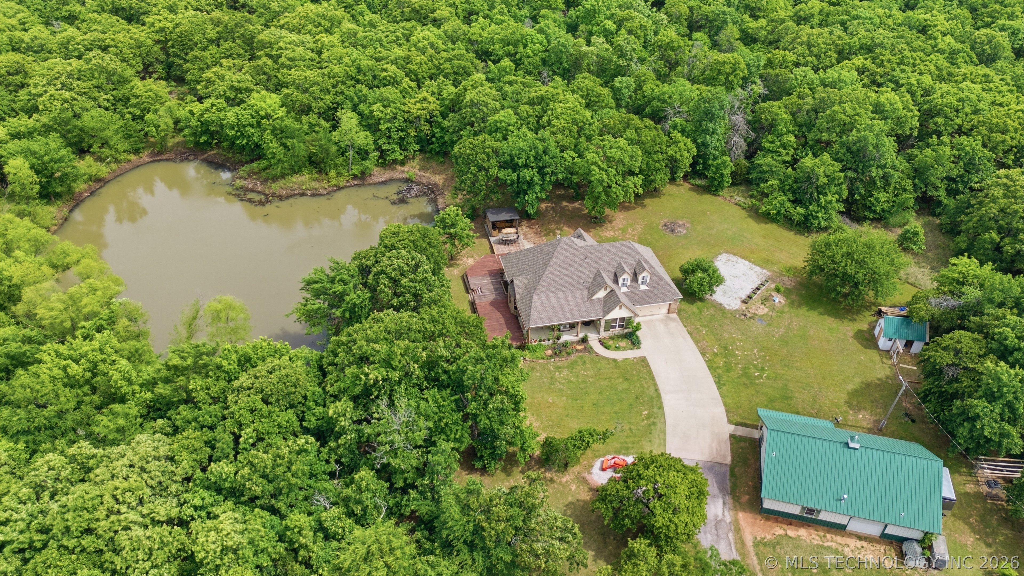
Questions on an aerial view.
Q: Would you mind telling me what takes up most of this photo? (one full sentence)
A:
The scene is dominated by trees.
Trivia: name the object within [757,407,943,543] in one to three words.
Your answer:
building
